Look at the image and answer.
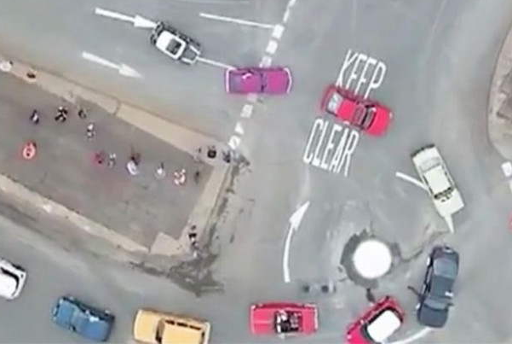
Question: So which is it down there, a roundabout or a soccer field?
roundabout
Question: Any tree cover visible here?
No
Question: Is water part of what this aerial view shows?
No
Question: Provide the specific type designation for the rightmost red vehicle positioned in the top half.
automobile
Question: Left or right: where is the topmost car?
left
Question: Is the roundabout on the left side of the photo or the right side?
right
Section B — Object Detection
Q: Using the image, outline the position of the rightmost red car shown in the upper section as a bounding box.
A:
[322,84,392,135]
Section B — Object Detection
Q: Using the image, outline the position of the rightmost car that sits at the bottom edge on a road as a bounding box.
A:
[415,245,461,328]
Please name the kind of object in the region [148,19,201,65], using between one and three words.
car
